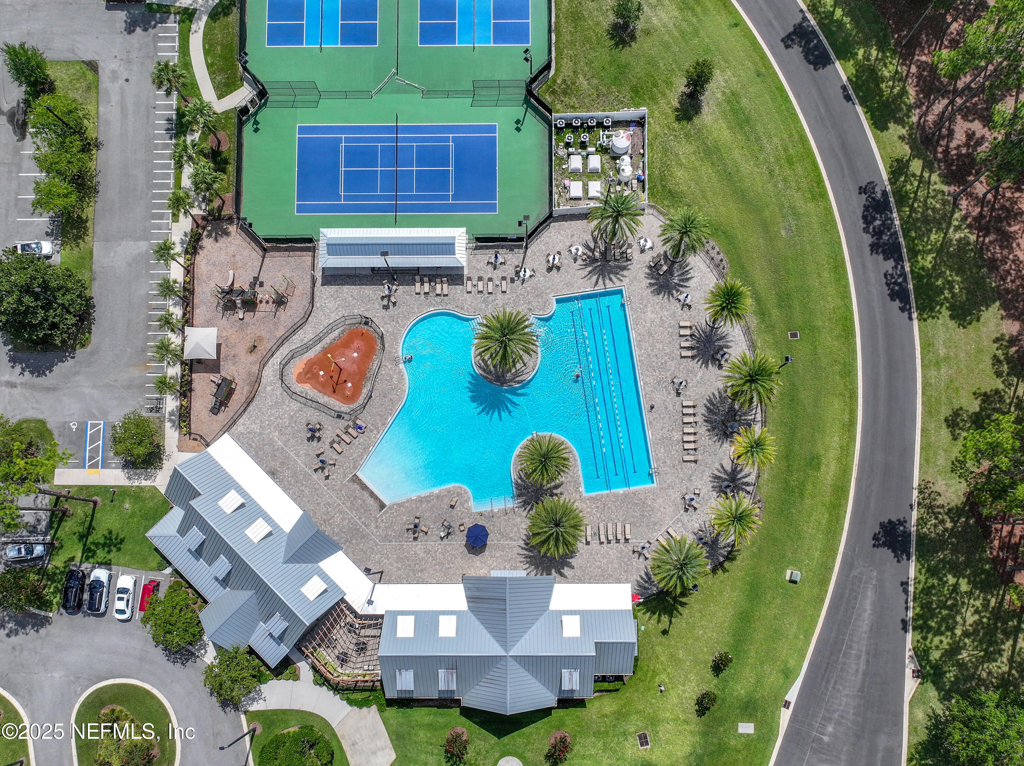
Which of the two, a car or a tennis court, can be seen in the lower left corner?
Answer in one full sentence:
The one visible in the lower left corner is a car.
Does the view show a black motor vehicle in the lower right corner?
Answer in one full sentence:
No, looking in the lower right corner, there is no black motor vehicle.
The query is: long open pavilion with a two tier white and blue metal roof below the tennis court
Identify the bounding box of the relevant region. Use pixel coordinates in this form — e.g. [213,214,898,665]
[319,227,466,269]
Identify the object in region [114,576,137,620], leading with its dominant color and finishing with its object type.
white car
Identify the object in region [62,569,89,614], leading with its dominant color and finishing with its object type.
black car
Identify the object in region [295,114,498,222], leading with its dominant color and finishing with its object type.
blue tennis court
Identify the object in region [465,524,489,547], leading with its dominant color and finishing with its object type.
blue umbrella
